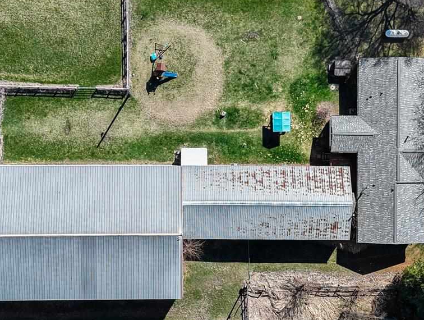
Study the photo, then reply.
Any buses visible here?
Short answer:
No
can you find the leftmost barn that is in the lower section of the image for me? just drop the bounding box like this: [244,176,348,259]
[0,164,183,300]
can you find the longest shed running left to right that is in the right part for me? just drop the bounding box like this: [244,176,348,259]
[183,166,358,239]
